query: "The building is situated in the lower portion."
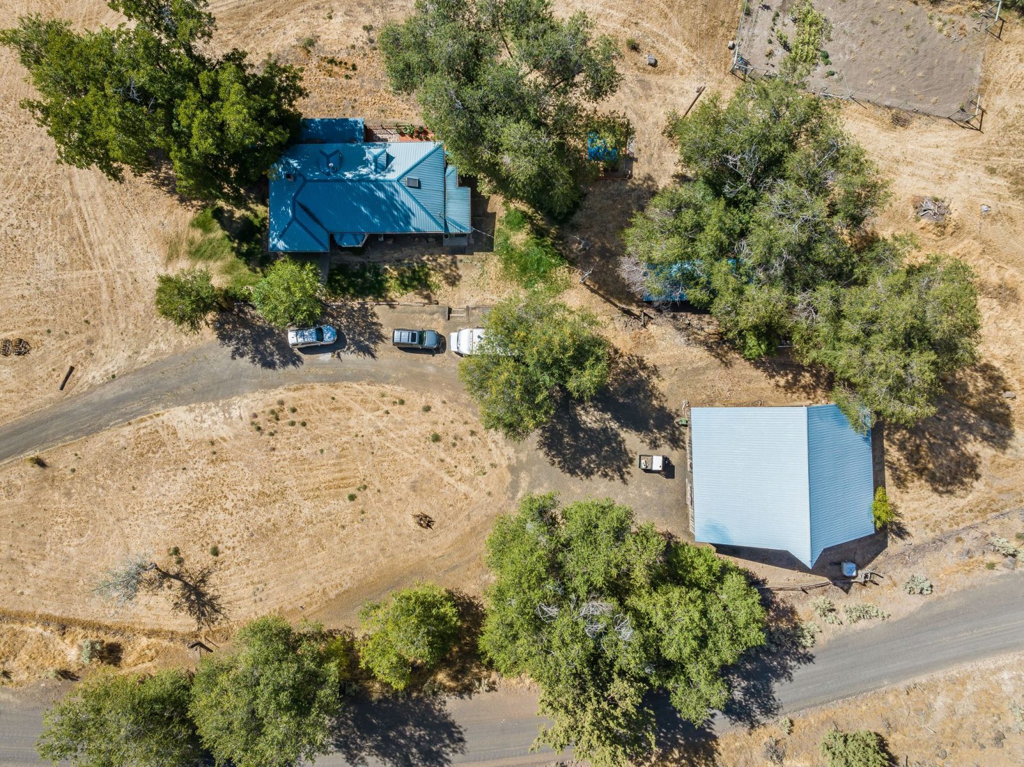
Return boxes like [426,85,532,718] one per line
[685,403,876,566]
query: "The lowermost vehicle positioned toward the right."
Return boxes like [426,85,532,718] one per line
[638,452,666,470]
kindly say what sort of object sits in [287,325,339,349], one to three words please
car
